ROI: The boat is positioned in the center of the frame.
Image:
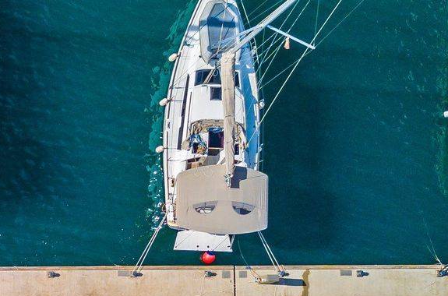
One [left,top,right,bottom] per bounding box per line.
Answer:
[157,0,373,253]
